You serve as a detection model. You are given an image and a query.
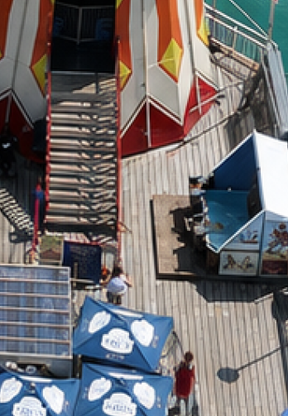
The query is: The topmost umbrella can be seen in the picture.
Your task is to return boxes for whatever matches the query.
[74,296,172,372]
